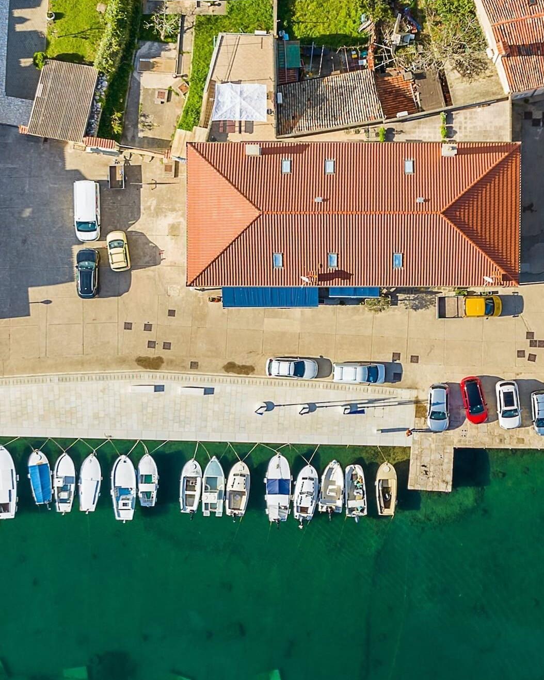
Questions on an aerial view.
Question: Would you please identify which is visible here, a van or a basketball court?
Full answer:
Visible in the photo is a van.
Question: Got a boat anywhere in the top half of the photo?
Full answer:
No, looking in the top half of the photo, there is no boat.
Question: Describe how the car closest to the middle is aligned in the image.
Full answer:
The car closest to the middle runs from side to side in the image.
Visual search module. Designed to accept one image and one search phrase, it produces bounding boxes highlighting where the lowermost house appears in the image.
[185,140,522,309]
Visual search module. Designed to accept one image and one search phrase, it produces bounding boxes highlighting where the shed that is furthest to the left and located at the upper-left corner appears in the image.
[29,60,101,143]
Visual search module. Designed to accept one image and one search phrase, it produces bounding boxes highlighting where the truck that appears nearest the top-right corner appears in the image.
[437,295,501,320]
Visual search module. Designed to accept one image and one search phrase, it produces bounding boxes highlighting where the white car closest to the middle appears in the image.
[266,356,318,381]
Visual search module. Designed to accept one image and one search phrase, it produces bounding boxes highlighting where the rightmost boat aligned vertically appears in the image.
[374,462,398,515]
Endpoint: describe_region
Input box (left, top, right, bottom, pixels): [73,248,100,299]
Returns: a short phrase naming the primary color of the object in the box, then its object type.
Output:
black car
